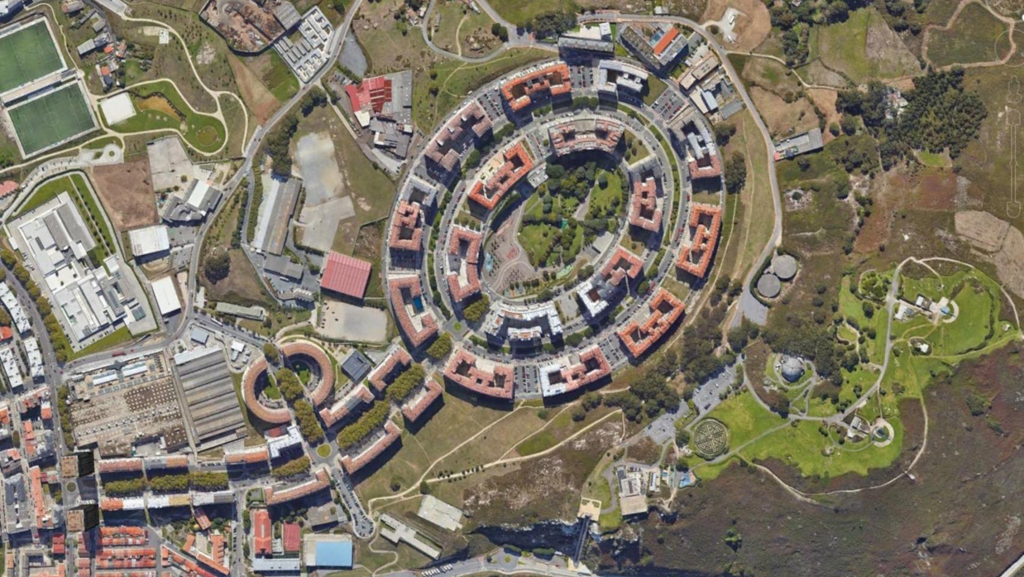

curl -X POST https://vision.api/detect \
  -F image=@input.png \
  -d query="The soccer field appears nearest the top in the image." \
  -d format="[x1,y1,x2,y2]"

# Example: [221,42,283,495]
[0,16,67,98]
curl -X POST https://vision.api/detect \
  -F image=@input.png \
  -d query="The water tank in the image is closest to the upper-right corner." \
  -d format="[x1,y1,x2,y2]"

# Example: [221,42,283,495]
[771,254,797,279]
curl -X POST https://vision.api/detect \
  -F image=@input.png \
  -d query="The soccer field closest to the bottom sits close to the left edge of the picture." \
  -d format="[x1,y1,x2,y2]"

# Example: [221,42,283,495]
[2,79,99,159]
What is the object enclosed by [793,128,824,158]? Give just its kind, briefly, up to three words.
barn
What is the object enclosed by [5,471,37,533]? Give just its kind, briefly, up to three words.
house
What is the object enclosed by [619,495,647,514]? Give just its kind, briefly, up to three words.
building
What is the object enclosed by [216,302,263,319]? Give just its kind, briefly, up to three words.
building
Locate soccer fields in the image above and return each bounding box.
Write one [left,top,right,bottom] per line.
[2,79,99,159]
[0,16,67,98]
